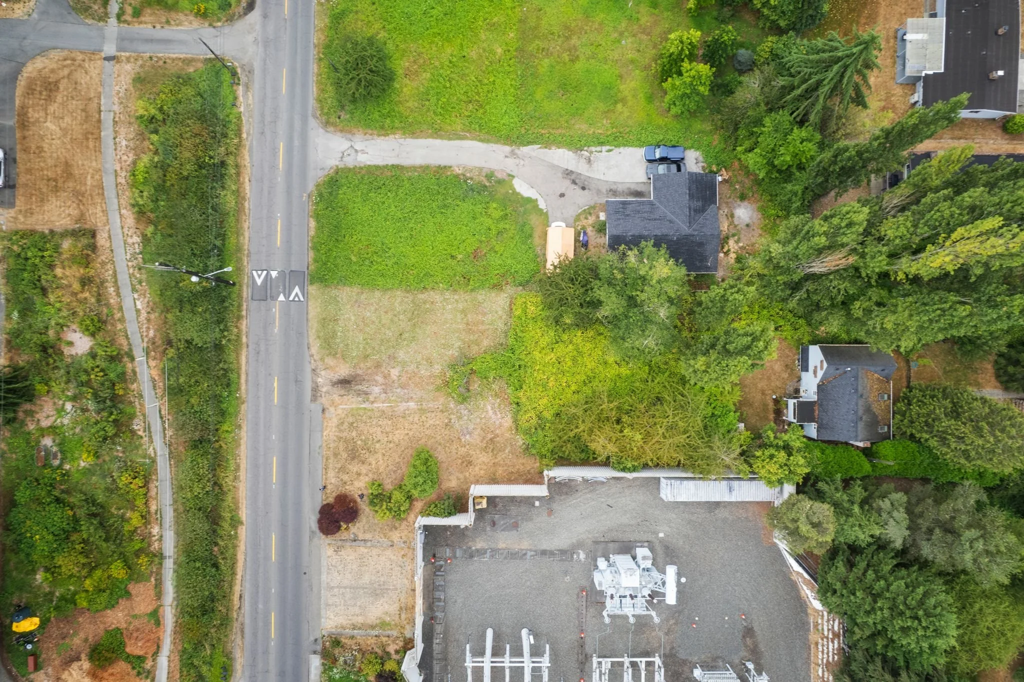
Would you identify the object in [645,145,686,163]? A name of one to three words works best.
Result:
vehicle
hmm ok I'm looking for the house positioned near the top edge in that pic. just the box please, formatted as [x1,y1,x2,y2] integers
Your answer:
[895,0,1021,117]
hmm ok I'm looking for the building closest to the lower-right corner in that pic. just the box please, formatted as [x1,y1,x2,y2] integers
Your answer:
[782,344,897,448]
